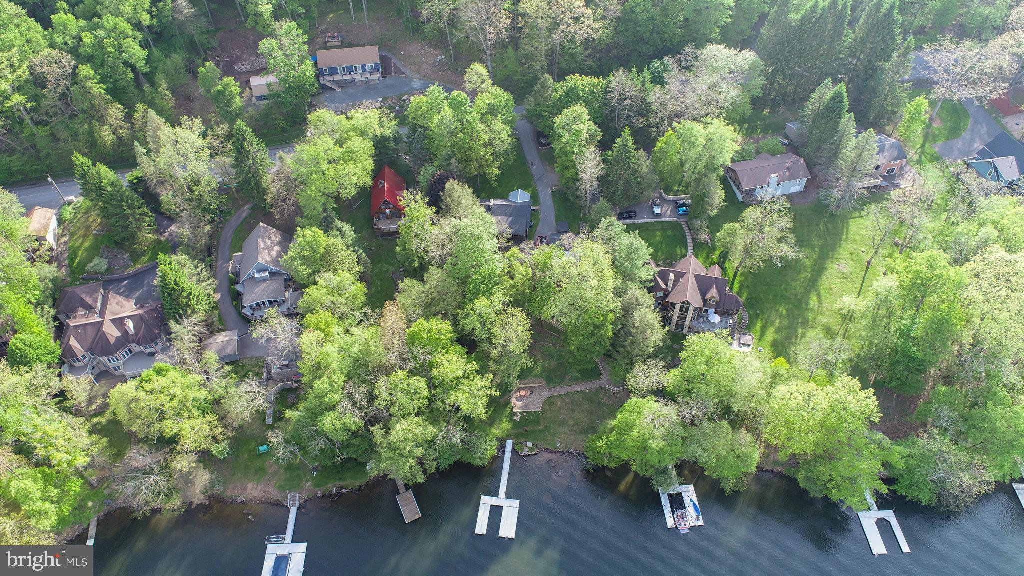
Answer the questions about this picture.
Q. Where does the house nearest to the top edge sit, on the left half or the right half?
left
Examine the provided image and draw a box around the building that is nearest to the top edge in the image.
[317,46,383,91]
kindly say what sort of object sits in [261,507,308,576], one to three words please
pier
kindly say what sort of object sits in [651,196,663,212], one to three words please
vehicle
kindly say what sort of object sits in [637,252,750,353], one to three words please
house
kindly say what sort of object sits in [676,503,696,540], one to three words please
boat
